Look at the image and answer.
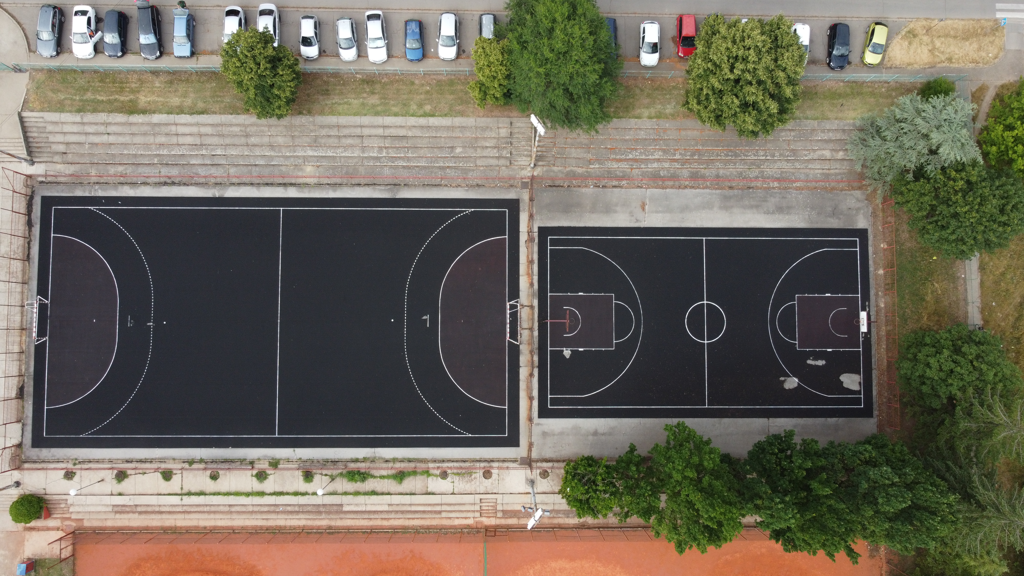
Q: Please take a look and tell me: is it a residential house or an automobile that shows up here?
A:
automobile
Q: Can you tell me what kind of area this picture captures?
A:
sports ground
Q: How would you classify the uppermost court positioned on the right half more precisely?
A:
basketball court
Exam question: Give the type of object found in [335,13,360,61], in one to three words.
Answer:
car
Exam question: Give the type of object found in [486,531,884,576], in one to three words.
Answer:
tennis court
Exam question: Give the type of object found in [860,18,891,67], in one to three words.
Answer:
car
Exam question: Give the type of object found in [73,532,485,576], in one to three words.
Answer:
tennis court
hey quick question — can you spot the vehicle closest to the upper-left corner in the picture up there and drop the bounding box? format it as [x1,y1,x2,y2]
[32,4,66,57]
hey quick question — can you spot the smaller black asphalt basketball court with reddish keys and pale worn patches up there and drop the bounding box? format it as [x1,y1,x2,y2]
[538,227,873,418]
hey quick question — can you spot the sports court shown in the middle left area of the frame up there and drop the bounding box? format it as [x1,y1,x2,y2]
[31,196,519,448]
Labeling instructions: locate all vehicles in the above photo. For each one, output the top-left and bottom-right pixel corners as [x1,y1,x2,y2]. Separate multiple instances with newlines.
[335,13,360,61]
[131,0,165,60]
[638,18,662,66]
[824,20,852,70]
[169,9,196,58]
[100,8,130,58]
[677,12,700,58]
[364,9,389,63]
[219,8,245,48]
[257,6,281,43]
[68,5,103,59]
[296,12,322,59]
[860,18,891,67]
[435,10,459,60]
[32,4,66,57]
[787,19,813,66]
[402,16,426,62]
[475,14,497,44]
